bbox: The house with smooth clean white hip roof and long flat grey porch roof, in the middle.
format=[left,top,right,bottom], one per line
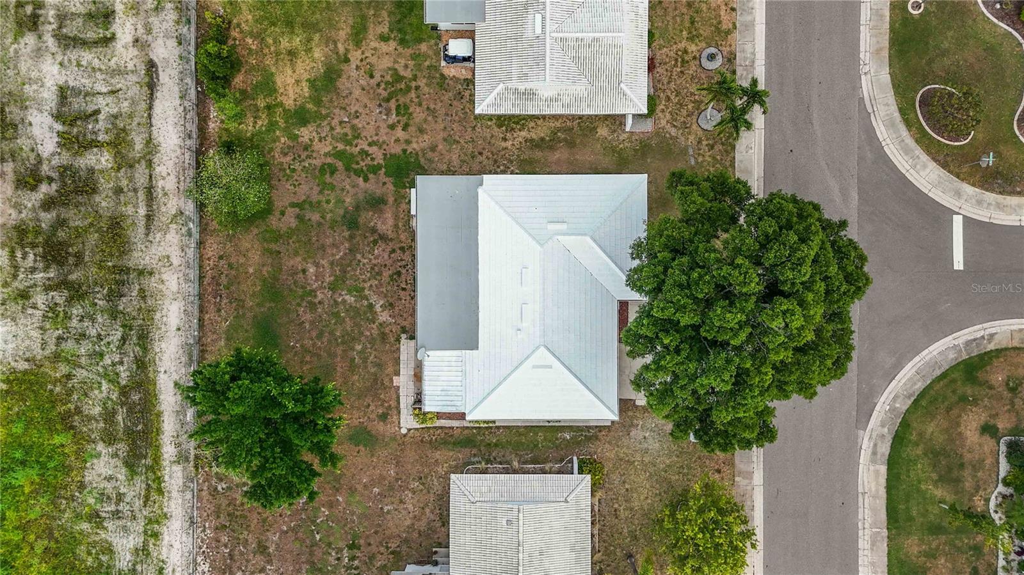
[414,173,649,422]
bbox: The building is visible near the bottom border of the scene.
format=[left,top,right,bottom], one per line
[392,473,592,575]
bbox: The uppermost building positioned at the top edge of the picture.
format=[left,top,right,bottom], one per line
[424,0,649,115]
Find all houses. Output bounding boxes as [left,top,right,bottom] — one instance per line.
[392,473,592,575]
[424,0,649,115]
[414,173,649,422]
